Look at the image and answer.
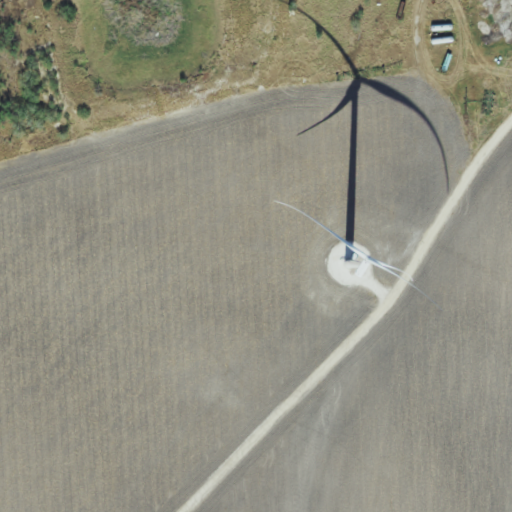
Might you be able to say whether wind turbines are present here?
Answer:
Yes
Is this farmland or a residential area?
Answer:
farmland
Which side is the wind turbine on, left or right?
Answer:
right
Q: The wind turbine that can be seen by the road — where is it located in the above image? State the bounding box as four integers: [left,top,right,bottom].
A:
[271,200,462,326]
